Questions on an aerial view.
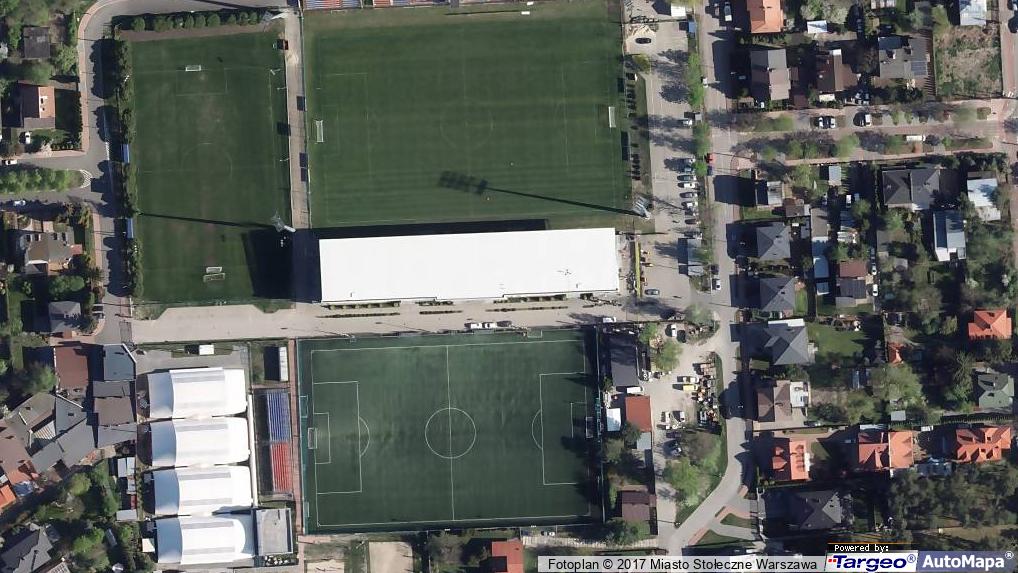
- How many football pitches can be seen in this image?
3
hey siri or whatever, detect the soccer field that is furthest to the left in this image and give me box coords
[129,30,291,304]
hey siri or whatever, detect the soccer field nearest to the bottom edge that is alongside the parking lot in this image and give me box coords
[297,327,605,533]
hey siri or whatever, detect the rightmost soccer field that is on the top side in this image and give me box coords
[312,21,630,229]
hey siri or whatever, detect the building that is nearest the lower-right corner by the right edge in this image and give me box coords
[955,426,1011,462]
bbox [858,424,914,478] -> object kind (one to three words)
house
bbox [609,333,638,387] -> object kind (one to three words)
building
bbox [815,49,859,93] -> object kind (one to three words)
house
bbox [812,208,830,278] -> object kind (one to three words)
building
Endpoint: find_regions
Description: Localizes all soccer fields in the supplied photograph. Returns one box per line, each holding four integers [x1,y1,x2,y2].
[312,21,630,229]
[297,327,605,533]
[129,30,291,304]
